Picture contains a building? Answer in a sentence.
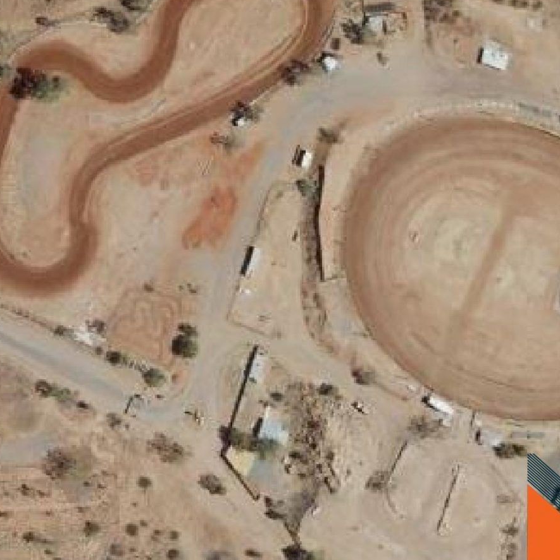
Yes, there's a building here.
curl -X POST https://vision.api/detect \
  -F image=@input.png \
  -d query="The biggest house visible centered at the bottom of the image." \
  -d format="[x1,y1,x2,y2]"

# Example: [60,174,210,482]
[259,416,288,443]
